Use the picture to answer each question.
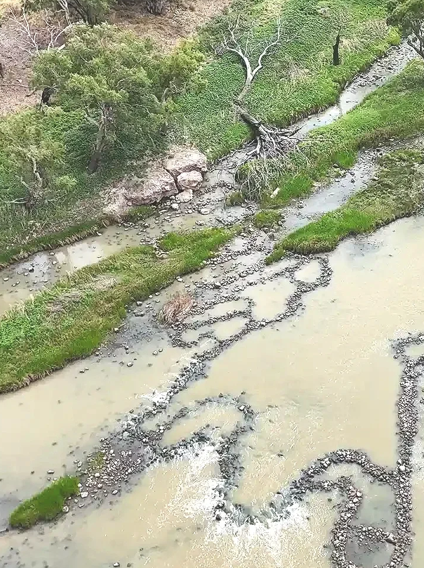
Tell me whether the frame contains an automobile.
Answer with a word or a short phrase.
No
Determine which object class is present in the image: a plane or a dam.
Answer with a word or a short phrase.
dam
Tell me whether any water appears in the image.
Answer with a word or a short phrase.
Yes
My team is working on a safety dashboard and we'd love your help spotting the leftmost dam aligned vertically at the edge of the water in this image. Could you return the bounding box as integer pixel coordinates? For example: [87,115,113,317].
[213,424,248,498]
